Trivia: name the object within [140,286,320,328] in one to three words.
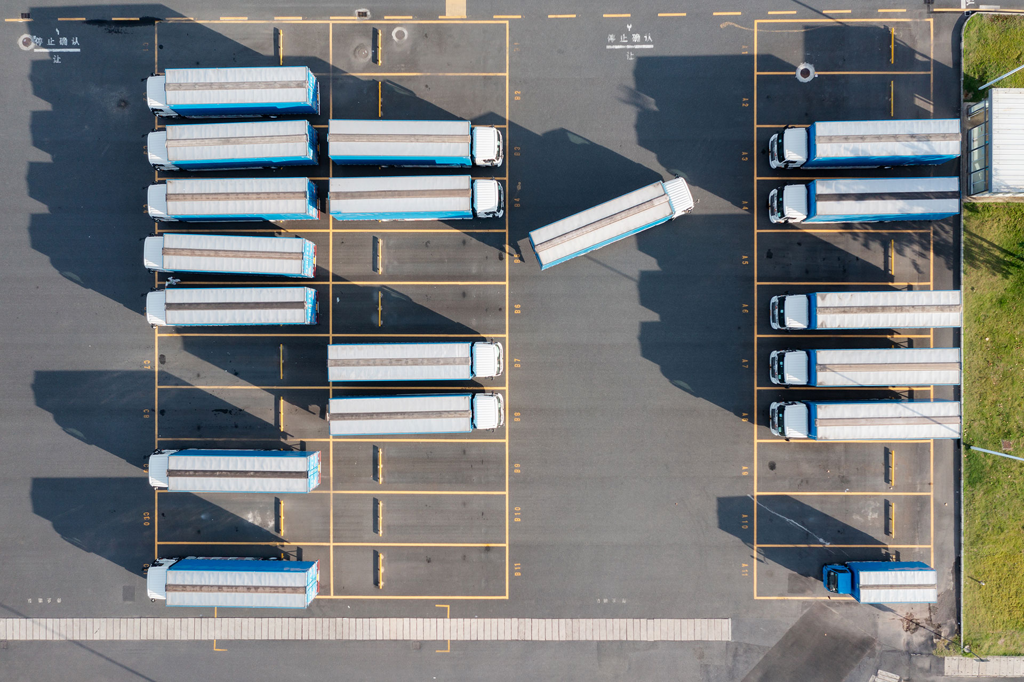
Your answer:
truck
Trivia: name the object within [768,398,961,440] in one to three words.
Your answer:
truck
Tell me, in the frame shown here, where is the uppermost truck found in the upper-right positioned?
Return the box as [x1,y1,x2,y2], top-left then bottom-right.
[768,118,961,168]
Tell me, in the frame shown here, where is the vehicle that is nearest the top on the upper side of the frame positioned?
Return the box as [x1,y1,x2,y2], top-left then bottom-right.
[140,66,321,119]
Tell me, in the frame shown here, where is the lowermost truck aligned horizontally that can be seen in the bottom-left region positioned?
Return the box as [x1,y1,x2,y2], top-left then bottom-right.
[141,557,320,608]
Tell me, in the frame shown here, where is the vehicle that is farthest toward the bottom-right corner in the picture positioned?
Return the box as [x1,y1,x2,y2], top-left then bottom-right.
[822,561,937,603]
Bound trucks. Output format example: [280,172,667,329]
[141,120,321,172]
[328,175,508,221]
[822,561,937,603]
[140,286,320,328]
[140,66,321,119]
[768,398,961,440]
[327,340,508,381]
[768,118,961,168]
[768,177,960,223]
[768,346,961,388]
[141,557,320,608]
[329,390,509,435]
[526,172,702,270]
[142,448,322,493]
[768,290,961,333]
[141,177,321,224]
[328,119,507,167]
[138,232,317,278]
